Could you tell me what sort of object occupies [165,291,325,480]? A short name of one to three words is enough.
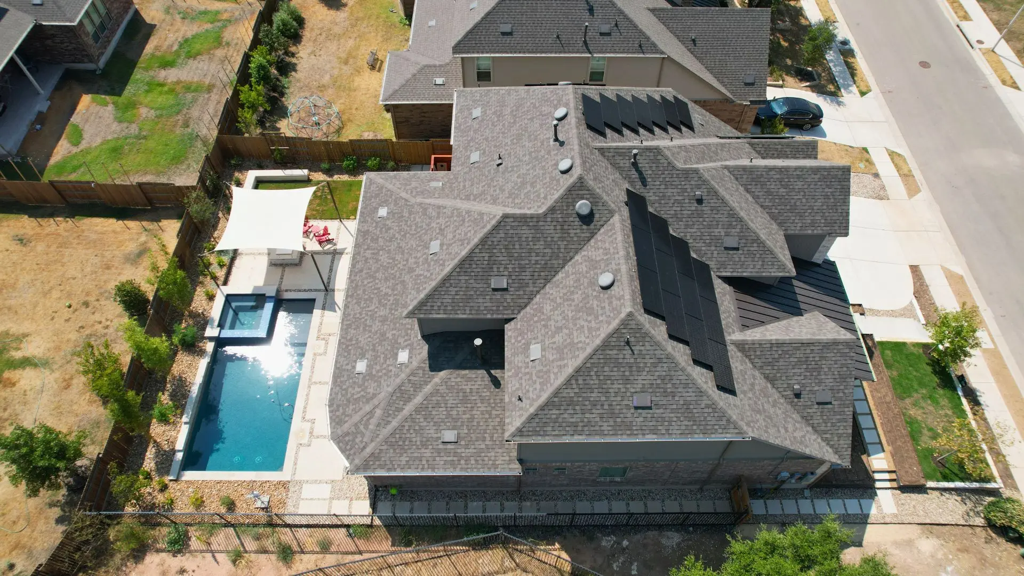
swimming pool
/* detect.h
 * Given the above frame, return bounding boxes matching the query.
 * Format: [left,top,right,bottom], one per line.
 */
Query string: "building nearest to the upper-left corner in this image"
[0,0,139,158]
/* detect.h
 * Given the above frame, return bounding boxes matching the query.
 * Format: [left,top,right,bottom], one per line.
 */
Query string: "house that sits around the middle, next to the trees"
[324,82,879,497]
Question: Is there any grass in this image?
Yes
